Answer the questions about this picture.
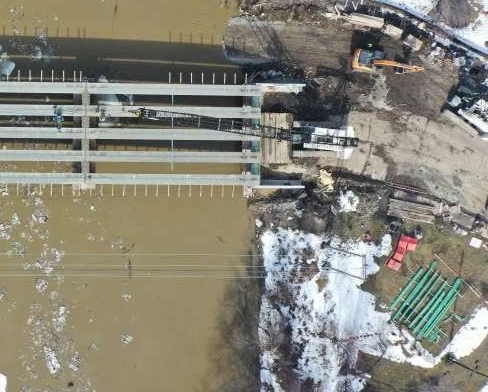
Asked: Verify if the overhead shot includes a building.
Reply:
No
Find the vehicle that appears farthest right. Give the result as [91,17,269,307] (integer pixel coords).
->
[449,89,488,138]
